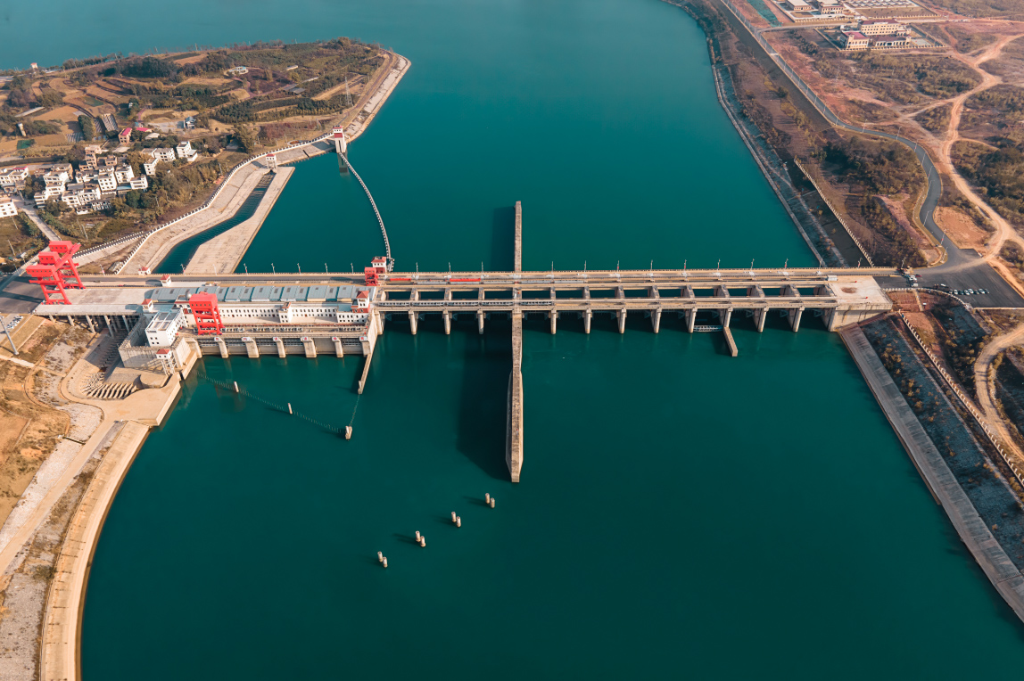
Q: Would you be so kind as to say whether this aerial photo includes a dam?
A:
Yes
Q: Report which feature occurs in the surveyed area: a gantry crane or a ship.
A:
gantry crane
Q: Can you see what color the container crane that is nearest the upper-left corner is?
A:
red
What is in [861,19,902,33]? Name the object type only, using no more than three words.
building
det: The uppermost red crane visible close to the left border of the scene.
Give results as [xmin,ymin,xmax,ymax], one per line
[26,237,86,304]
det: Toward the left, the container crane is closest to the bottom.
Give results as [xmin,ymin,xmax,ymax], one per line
[187,293,227,334]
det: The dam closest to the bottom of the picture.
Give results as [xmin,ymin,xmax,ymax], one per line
[43,267,892,334]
